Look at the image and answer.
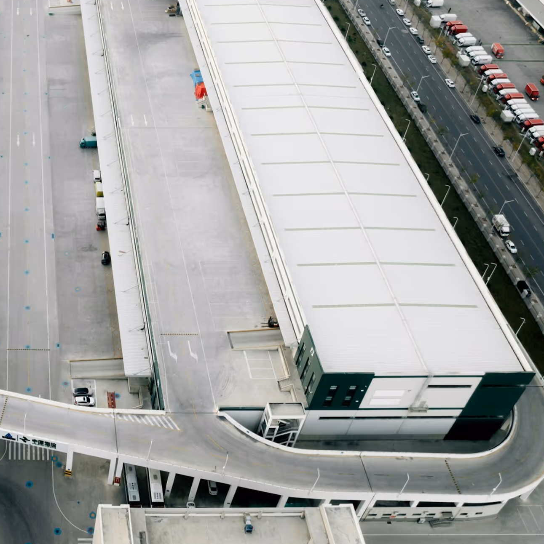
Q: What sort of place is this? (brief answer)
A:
industrial area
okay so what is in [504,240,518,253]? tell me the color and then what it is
white vehicle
